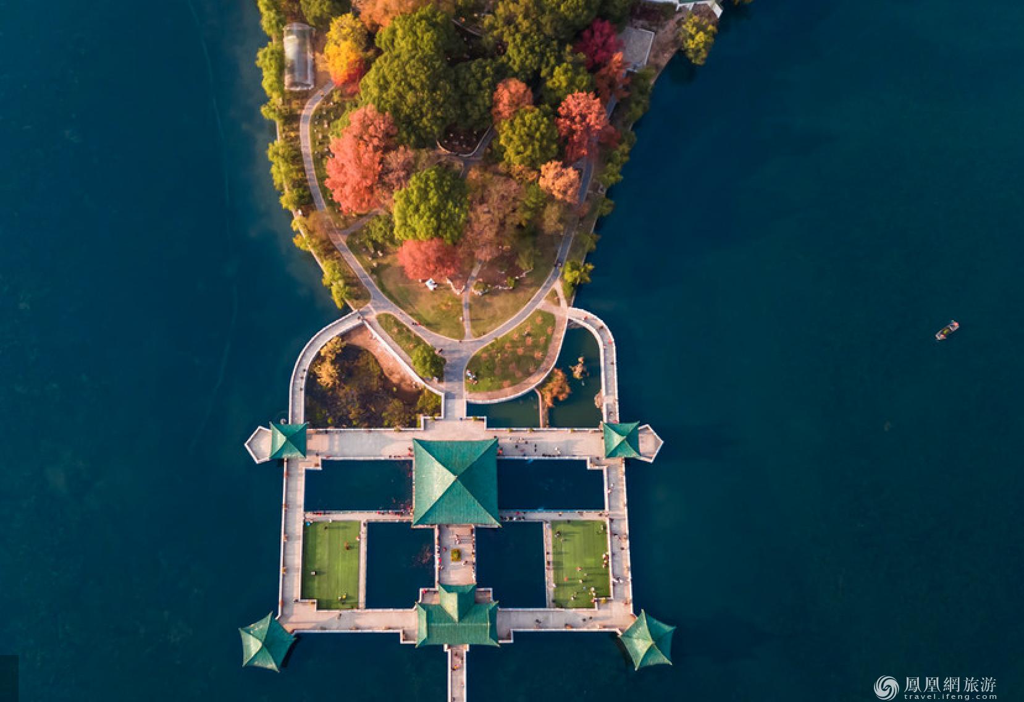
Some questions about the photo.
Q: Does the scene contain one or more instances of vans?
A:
No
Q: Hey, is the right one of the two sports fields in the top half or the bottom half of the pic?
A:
bottom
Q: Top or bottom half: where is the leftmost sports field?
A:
bottom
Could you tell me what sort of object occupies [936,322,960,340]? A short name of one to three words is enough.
boat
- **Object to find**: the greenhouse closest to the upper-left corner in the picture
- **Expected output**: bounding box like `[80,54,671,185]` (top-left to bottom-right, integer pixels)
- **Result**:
[284,18,315,92]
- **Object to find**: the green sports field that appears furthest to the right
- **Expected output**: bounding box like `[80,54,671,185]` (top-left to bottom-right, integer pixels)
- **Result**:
[552,520,612,608]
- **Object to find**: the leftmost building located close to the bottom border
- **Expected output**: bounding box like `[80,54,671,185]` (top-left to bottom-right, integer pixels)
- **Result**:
[238,610,298,673]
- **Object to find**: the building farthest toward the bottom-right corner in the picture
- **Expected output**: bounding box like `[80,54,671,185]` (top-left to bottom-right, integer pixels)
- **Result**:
[619,607,678,672]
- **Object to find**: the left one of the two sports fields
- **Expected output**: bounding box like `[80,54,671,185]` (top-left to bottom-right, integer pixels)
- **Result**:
[300,521,360,609]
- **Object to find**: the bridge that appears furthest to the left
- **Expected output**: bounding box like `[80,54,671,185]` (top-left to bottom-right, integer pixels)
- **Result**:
[288,309,364,423]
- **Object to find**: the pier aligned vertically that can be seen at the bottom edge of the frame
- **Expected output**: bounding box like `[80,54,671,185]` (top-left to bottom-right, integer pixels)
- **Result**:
[444,647,469,702]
